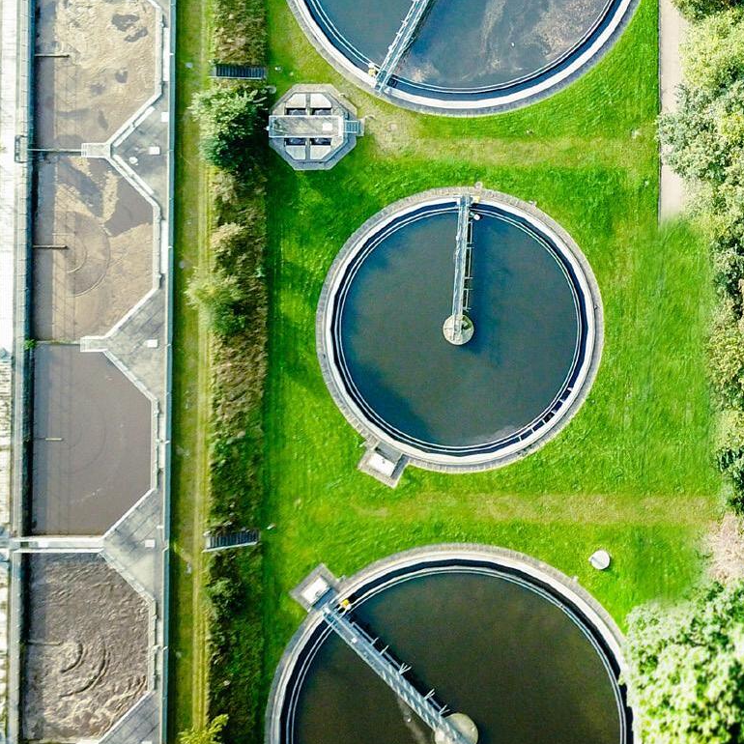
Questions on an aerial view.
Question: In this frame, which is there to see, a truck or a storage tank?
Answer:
storage tank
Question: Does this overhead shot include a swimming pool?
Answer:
No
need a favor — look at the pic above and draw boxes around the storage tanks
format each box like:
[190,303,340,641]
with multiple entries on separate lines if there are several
[288,0,638,119]
[316,186,603,473]
[265,544,641,744]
